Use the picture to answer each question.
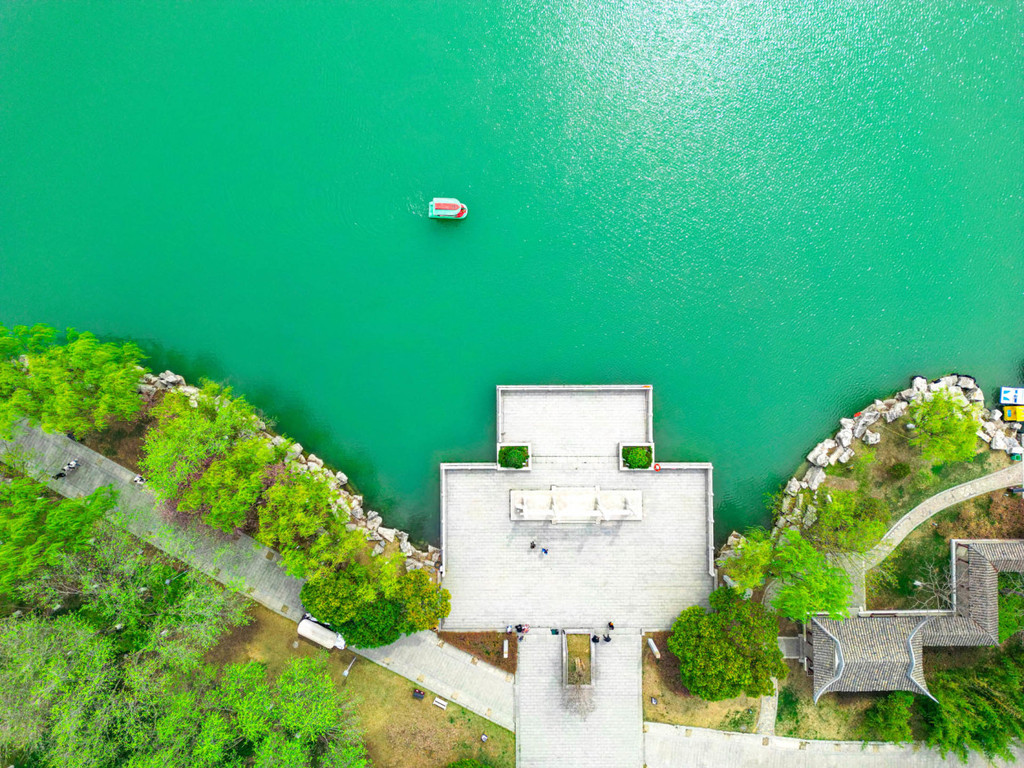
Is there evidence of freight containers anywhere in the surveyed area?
No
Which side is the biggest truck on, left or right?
left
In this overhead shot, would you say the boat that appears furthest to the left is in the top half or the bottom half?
top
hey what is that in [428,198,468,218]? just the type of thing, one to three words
boat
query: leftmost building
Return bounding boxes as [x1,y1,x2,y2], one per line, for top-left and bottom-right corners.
[793,611,939,707]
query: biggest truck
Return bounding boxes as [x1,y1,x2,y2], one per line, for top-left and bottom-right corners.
[296,621,348,656]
